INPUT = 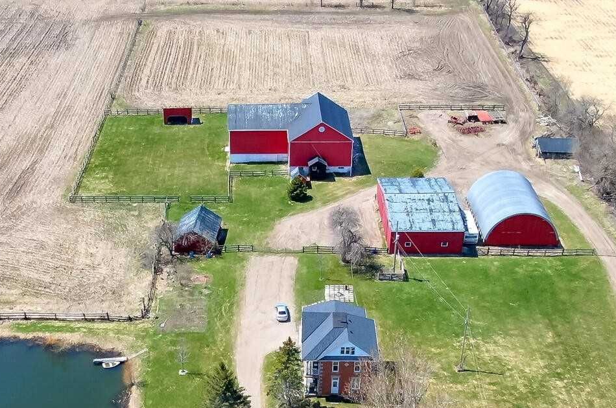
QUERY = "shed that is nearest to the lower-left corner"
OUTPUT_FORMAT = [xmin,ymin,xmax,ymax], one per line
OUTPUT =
[172,205,225,255]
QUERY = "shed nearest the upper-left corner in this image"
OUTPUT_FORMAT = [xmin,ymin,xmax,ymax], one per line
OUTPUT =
[163,108,193,124]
